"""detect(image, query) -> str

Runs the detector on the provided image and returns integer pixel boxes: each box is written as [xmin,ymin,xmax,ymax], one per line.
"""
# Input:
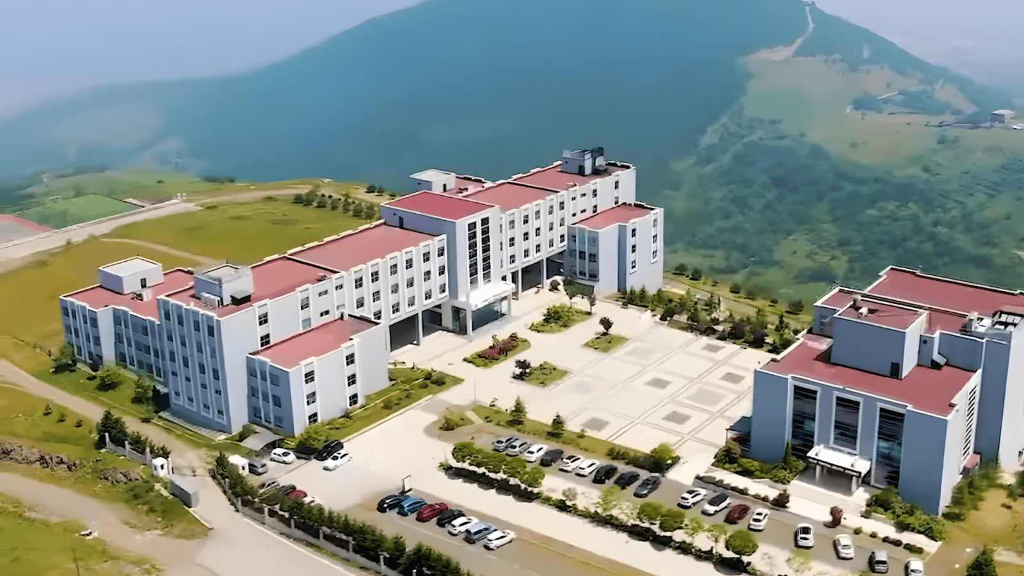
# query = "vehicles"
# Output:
[589,465,620,484]
[481,532,517,553]
[375,495,410,515]
[446,518,479,538]
[573,460,601,478]
[869,550,890,576]
[723,506,751,525]
[702,490,729,516]
[796,524,814,548]
[558,453,586,473]
[461,523,500,545]
[521,445,551,463]
[835,536,854,560]
[246,458,275,476]
[904,558,925,576]
[275,482,305,498]
[676,488,709,508]
[322,452,353,472]
[488,436,518,454]
[434,511,468,530]
[315,442,345,460]
[612,471,643,490]
[748,509,769,531]
[537,449,566,468]
[634,477,661,498]
[413,503,450,524]
[502,440,533,458]
[395,499,427,518]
